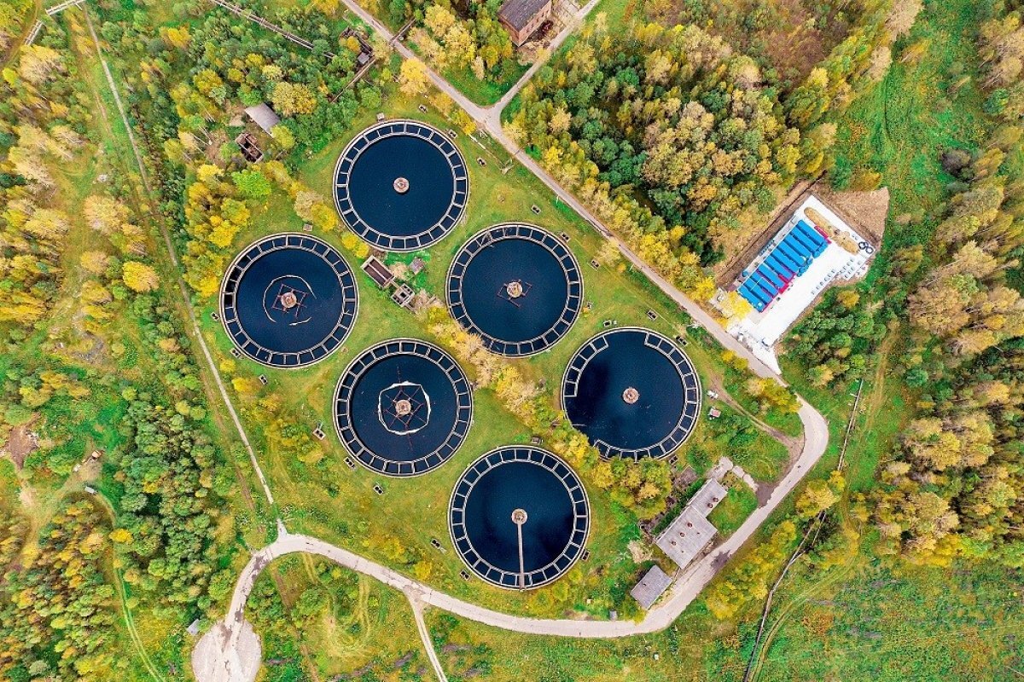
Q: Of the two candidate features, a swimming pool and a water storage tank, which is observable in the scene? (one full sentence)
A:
Visible in the photo is a water storage tank.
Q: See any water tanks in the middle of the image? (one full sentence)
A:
Yes, you'll find a water tank in the middle of the image.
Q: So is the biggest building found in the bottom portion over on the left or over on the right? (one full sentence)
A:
The biggest building found in the bottom portion appears in the right half of the scene.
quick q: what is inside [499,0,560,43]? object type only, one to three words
house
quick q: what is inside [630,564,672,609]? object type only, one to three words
shed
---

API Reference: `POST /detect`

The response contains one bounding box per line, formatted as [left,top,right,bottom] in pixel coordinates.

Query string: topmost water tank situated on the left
[333,118,470,253]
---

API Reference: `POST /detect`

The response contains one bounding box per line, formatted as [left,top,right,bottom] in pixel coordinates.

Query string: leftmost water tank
[219,232,359,370]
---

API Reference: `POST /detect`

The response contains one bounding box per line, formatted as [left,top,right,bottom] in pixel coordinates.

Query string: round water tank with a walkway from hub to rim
[448,445,591,592]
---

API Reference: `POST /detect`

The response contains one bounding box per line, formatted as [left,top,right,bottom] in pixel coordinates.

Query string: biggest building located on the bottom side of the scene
[654,478,728,569]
